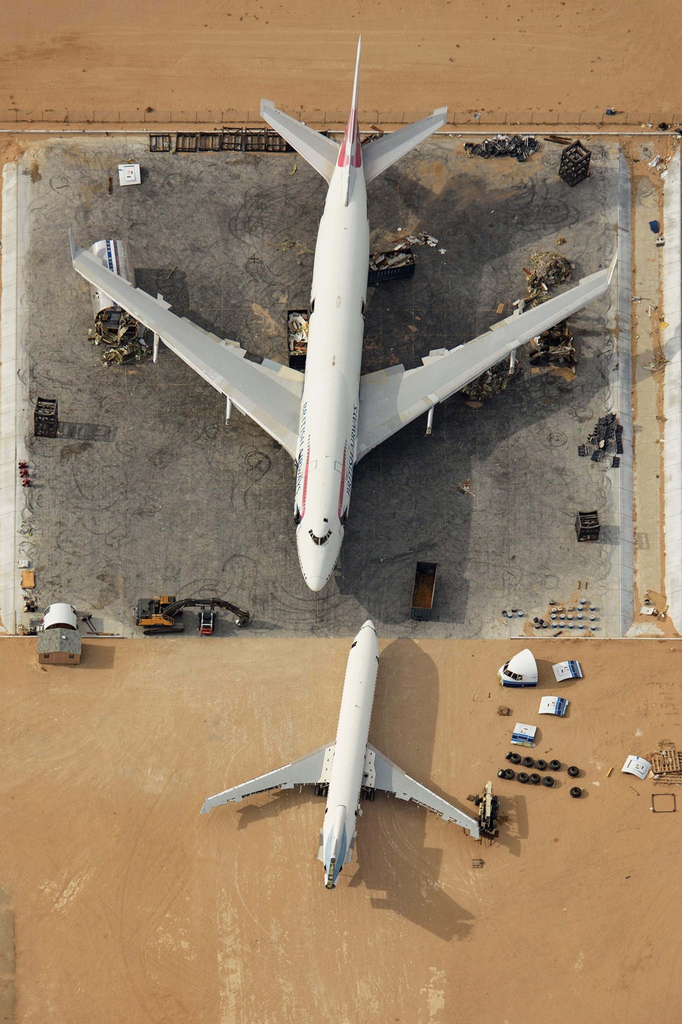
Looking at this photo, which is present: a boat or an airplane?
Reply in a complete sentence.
The one in the frame is an airplane.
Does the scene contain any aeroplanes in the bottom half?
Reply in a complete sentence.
Yes, an aeroplane shows up in the bottom half.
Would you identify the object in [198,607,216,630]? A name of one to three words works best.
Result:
work vehicle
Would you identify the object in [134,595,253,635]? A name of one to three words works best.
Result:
work vehicle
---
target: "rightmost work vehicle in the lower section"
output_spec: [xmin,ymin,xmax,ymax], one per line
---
[475,781,500,845]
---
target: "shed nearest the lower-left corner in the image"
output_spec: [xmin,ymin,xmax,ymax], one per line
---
[37,624,82,664]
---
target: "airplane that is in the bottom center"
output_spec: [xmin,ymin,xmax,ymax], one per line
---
[196,620,485,892]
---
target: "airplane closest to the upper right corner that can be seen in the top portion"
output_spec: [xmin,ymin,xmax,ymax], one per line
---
[69,38,618,590]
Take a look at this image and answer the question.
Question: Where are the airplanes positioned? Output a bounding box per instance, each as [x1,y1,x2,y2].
[196,620,485,892]
[69,38,618,590]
